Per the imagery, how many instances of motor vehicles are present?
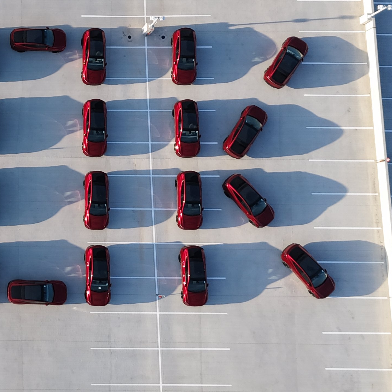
14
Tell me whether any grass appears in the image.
No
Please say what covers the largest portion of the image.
paved ground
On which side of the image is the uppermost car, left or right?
left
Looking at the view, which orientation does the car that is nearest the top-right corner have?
diagonally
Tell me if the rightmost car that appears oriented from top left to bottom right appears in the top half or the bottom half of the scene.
bottom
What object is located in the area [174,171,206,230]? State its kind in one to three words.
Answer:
car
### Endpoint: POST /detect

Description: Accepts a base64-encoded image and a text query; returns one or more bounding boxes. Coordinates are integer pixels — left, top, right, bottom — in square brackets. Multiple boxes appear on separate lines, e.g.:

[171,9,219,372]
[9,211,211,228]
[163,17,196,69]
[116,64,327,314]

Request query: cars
[281,243,336,299]
[172,99,202,157]
[179,246,210,306]
[222,173,276,228]
[170,28,199,85]
[81,28,109,85]
[82,99,110,157]
[10,26,67,53]
[263,36,310,89]
[8,279,67,307]
[222,106,269,159]
[174,171,206,230]
[84,246,113,306]
[83,171,112,230]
